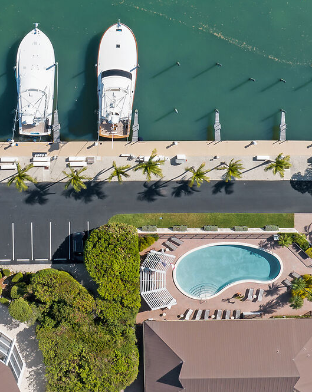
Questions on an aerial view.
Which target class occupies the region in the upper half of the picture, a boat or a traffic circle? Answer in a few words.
boat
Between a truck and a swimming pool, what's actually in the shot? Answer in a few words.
swimming pool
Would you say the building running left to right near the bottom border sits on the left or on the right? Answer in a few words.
right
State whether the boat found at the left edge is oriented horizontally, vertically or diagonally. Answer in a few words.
vertically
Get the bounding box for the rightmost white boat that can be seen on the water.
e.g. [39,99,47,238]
[91,18,137,143]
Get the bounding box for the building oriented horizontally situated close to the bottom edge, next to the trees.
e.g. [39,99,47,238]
[143,318,312,392]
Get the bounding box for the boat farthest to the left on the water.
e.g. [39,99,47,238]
[10,27,54,143]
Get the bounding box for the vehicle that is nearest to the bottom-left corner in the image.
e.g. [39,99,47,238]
[71,230,86,261]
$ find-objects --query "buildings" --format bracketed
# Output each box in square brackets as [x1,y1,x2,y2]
[0,330,31,392]
[143,318,312,392]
